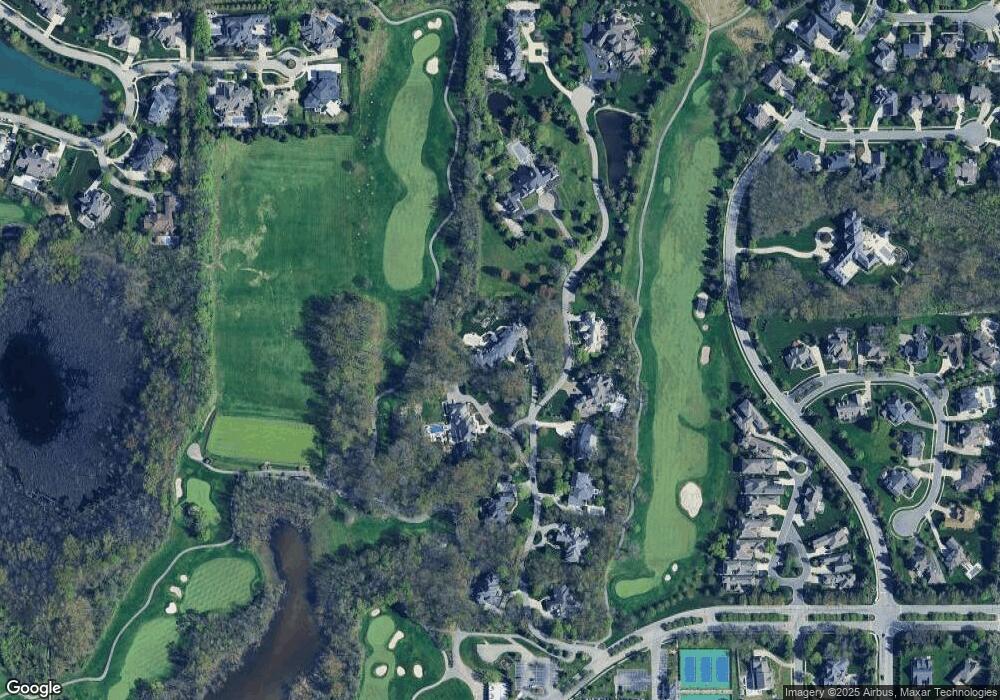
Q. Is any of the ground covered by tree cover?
Yes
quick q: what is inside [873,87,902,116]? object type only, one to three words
house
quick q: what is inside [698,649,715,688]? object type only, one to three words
tennis court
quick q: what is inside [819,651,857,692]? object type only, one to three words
house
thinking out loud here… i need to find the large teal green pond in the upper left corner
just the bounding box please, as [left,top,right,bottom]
[0,42,104,123]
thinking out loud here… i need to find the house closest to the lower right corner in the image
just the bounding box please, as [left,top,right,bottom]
[950,660,982,690]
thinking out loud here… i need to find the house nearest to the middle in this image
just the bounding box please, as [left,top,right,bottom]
[473,317,530,374]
